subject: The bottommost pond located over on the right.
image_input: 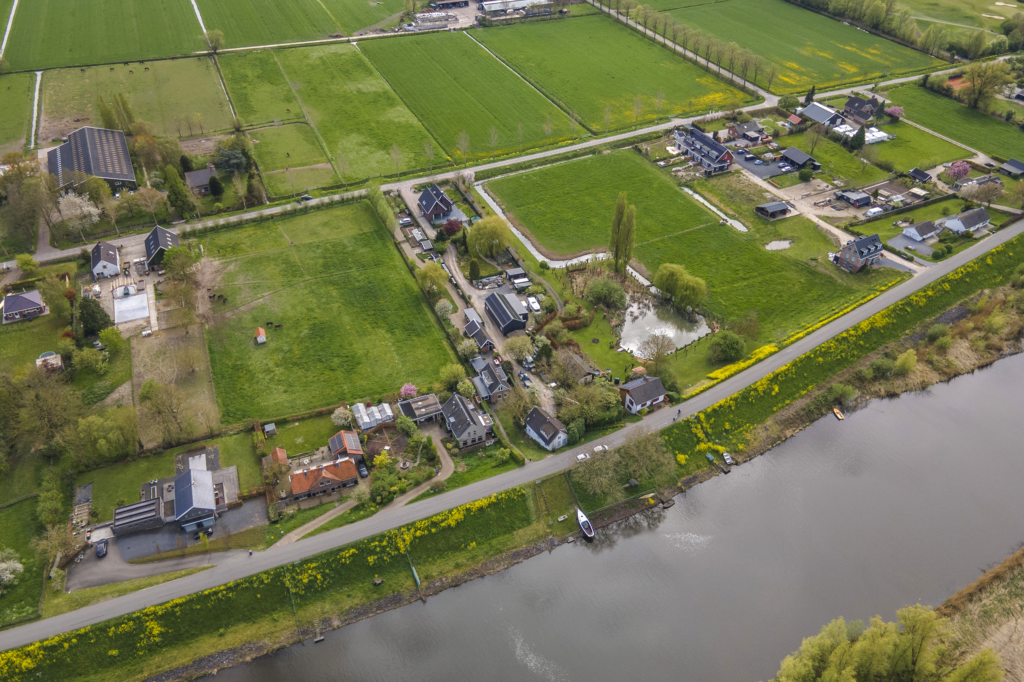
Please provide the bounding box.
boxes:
[620,300,711,360]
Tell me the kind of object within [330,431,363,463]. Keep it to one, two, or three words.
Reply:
barn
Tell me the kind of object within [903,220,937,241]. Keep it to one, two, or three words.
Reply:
building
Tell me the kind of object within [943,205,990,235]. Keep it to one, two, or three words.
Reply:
house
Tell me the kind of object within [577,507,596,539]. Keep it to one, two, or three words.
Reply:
boat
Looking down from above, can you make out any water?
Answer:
Yes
